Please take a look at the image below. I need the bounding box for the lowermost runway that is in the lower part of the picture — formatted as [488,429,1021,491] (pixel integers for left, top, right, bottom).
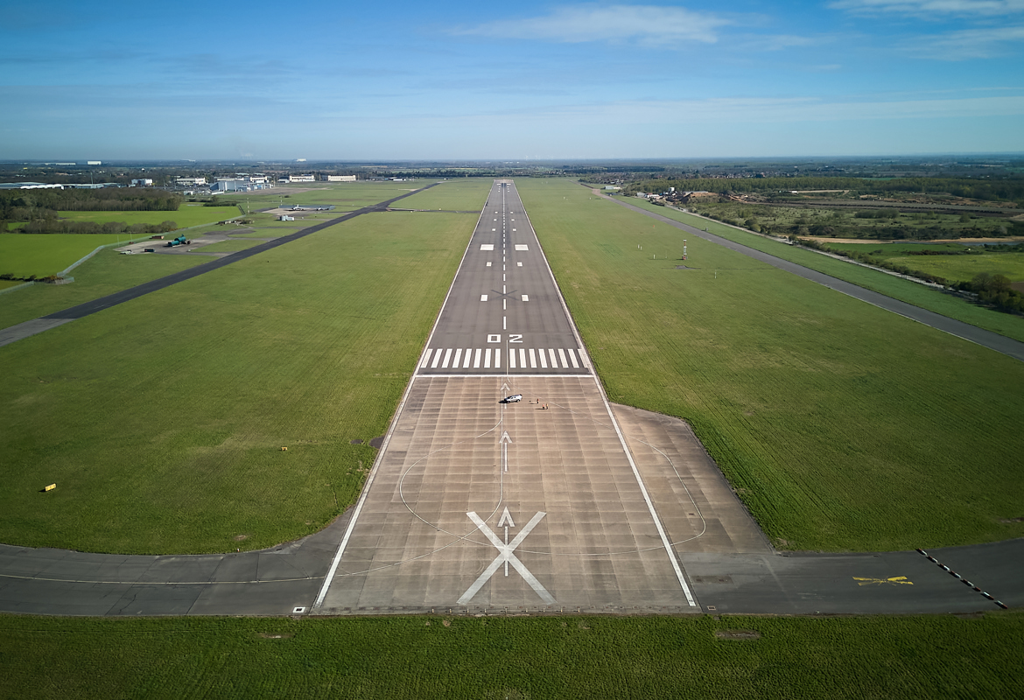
[306,376,709,615]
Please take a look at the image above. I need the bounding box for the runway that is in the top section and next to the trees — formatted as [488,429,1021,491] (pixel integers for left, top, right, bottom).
[410,181,602,376]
